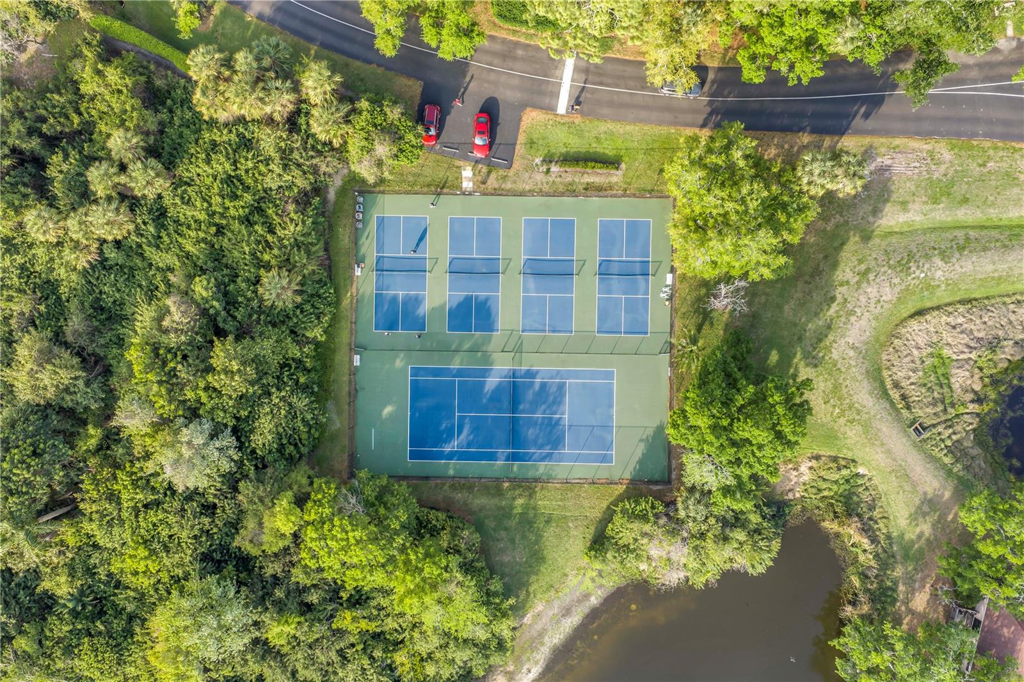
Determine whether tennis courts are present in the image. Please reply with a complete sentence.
Yes, there is a tennis court in the image.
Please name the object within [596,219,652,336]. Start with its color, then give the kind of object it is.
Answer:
blue sports court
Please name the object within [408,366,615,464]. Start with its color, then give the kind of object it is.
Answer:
blue tennis court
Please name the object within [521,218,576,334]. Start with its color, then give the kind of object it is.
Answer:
blue sports court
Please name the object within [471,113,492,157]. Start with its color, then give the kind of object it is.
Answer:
red car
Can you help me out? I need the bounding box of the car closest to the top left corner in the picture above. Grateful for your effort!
[419,103,440,146]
